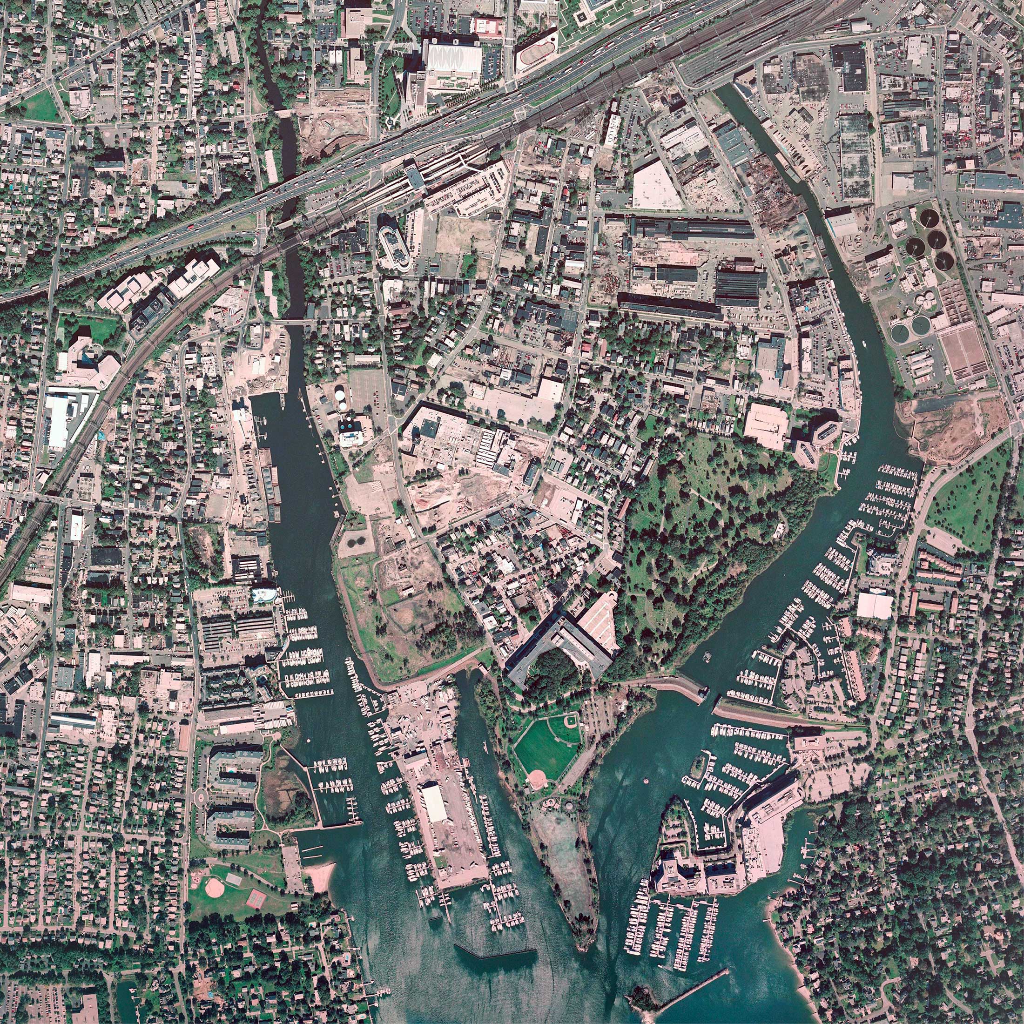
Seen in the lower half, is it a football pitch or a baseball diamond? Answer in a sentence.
You can see a baseball diamond in the lower half.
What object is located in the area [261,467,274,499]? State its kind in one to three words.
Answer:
ship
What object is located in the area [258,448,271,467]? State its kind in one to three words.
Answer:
ship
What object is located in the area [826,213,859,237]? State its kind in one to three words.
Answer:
shed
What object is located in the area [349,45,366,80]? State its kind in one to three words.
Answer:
building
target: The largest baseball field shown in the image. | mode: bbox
[512,713,583,790]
